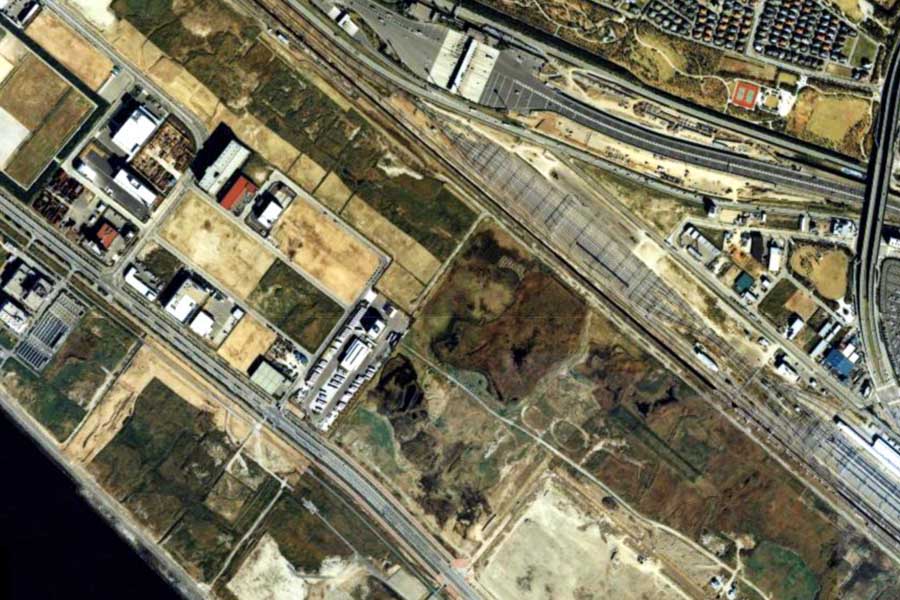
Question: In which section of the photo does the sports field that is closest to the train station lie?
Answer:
right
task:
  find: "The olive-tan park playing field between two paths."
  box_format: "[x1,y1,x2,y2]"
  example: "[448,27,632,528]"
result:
[805,97,870,141]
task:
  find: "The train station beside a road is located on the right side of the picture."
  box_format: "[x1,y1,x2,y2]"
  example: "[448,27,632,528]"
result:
[830,423,900,524]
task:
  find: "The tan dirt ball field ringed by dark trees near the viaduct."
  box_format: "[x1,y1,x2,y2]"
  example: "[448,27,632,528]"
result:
[793,246,849,299]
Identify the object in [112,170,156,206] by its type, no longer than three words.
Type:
building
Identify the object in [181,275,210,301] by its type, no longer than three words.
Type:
building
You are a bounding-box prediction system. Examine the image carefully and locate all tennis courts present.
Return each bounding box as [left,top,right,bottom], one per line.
[731,80,749,106]
[743,83,760,110]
